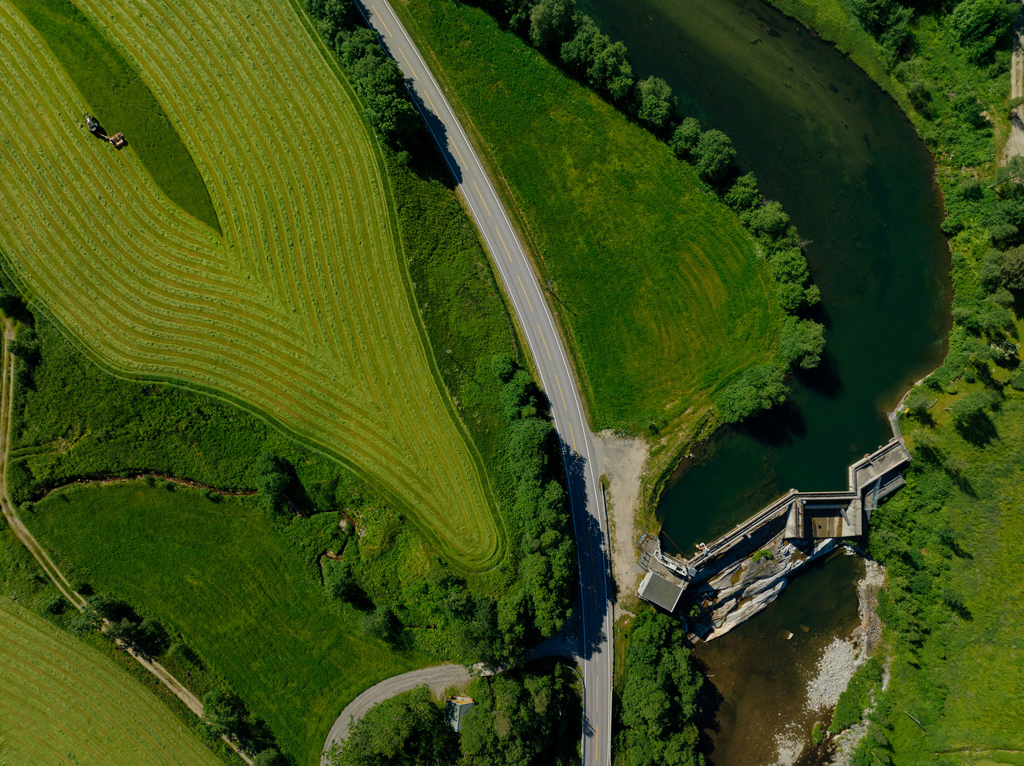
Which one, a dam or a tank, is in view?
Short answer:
dam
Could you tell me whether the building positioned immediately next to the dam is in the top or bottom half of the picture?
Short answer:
bottom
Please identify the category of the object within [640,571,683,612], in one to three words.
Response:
building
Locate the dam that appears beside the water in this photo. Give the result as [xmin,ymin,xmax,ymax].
[684,437,911,574]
